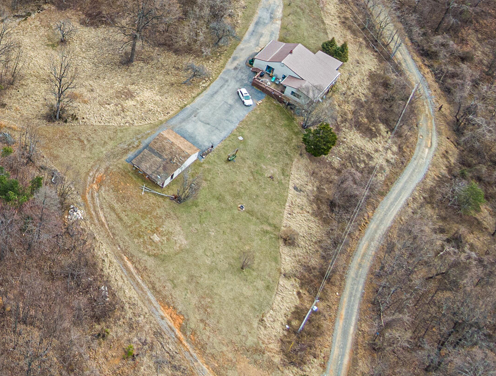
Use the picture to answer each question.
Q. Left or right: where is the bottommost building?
left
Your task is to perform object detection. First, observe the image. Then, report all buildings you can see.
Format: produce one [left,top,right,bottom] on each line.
[249,38,345,111]
[132,127,201,191]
